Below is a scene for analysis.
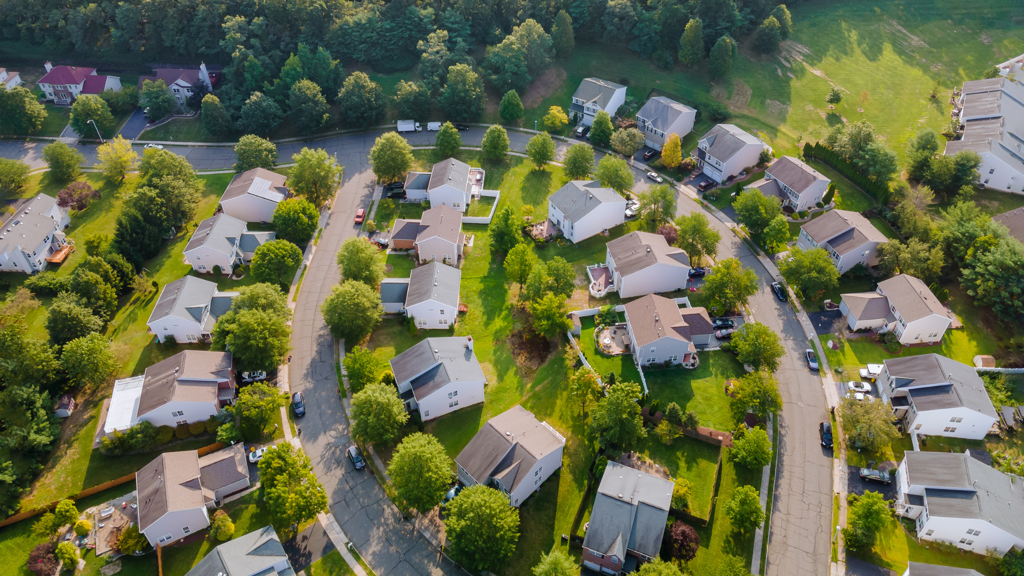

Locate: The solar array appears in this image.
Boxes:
[246,177,281,201]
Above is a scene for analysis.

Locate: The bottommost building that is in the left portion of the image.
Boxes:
[189,526,308,576]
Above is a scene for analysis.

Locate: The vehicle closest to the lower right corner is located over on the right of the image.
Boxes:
[858,466,893,486]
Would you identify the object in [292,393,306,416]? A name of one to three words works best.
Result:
car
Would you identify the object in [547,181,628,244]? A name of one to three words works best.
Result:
house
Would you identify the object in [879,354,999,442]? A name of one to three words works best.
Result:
house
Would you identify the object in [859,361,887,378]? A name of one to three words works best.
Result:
car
